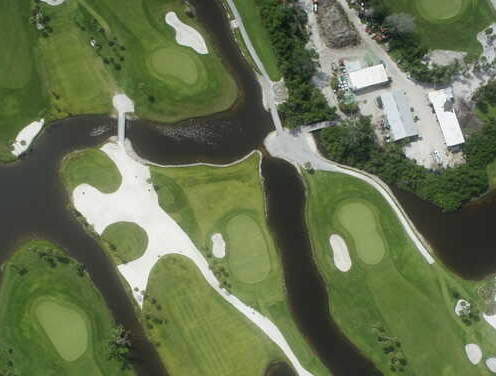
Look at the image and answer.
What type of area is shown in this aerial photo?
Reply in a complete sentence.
This image shows a golf course.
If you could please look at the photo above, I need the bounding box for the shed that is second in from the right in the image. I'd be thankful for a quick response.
[380,89,417,142]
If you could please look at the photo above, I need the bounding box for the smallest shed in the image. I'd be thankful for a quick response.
[349,63,388,91]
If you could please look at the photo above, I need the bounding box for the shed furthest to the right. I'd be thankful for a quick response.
[427,87,464,147]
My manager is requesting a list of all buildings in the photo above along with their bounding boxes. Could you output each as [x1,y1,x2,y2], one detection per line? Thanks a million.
[427,87,464,147]
[349,63,388,91]
[380,89,417,142]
